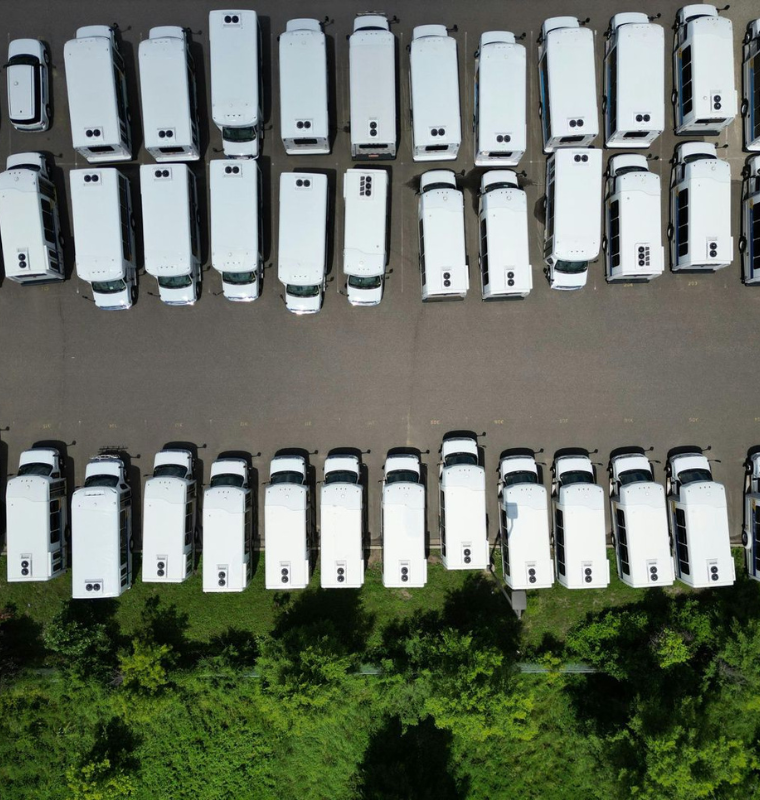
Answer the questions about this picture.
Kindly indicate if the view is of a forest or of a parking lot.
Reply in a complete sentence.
This image shows a parking lot.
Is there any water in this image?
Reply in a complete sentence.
No, no water is visible.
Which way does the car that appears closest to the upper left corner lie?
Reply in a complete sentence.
The car that appears closest to the upper left corner is laid out vertically.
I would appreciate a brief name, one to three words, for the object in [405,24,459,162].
vehicle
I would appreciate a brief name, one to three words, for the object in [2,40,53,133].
car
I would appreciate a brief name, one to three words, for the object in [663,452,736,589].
vehicle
